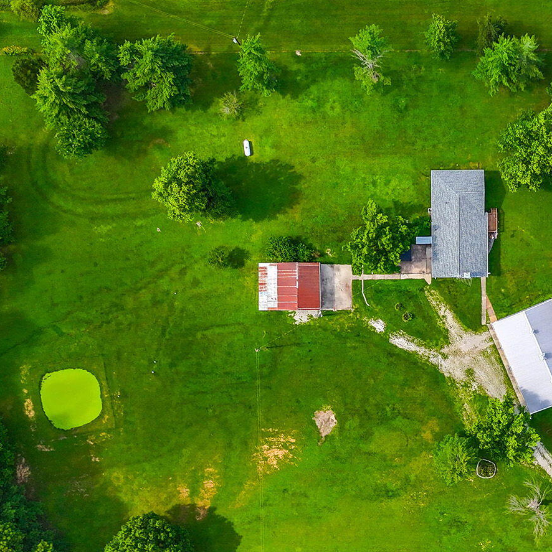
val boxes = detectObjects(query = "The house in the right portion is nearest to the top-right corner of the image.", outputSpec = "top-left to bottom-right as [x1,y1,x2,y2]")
[415,169,491,278]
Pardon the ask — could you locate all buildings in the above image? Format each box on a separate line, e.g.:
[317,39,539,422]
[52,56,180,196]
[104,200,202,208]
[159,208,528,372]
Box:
[491,299,552,413]
[415,169,491,278]
[259,263,321,310]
